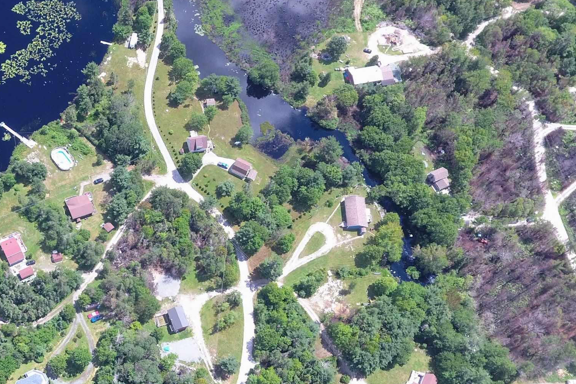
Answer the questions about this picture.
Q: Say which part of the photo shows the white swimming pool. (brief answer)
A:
left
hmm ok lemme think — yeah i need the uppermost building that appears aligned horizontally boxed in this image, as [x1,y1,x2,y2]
[346,64,394,86]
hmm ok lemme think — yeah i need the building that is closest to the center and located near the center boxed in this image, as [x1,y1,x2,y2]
[230,159,258,181]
